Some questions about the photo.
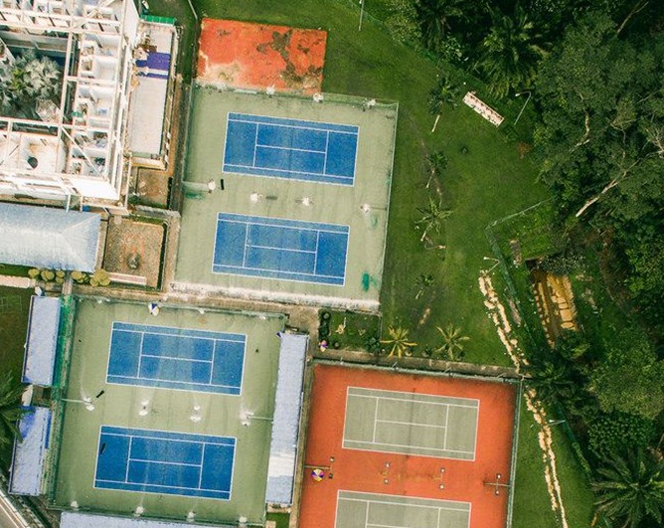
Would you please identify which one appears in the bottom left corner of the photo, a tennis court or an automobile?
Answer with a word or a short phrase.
tennis court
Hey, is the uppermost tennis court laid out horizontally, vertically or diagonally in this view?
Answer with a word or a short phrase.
horizontally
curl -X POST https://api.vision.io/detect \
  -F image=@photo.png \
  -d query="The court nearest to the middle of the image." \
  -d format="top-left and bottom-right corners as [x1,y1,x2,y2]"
[211,213,350,285]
